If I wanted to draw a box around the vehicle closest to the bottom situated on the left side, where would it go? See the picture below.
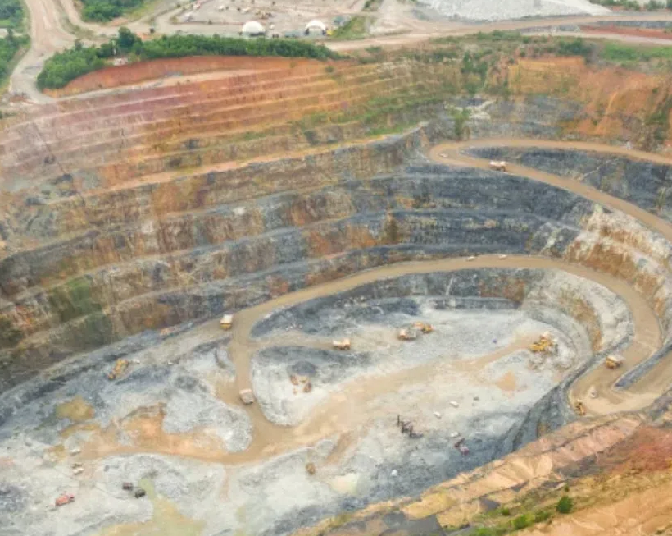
[52,493,73,506]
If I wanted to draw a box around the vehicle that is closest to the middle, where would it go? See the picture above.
[333,336,350,349]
